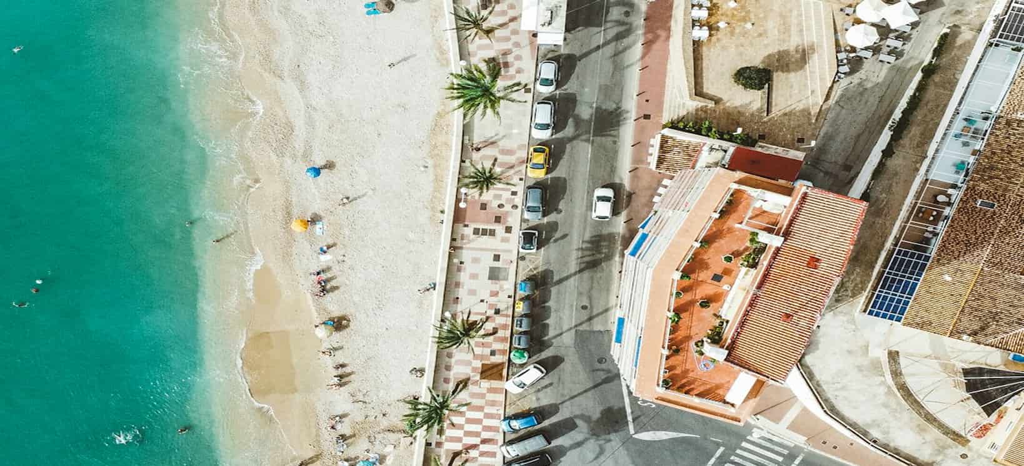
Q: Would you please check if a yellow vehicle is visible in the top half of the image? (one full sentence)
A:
Yes, in the top half of the image there is a yellow vehicle.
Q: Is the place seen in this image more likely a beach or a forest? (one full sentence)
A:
The area seen from above is a beach.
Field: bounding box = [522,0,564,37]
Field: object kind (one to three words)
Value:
truck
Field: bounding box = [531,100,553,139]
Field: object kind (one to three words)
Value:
car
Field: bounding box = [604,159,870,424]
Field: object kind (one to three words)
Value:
building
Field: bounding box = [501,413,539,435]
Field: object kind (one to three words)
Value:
car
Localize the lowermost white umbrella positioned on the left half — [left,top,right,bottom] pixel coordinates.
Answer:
[316,322,334,337]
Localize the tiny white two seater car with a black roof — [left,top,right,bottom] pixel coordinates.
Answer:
[518,229,538,253]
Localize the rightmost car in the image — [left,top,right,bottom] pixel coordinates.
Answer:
[592,186,615,220]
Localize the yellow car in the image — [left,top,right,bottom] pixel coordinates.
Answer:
[527,144,549,179]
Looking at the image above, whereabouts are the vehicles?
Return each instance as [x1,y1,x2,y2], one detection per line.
[527,144,549,179]
[503,432,549,460]
[531,100,553,139]
[592,186,615,220]
[522,0,564,37]
[507,361,547,395]
[508,450,550,466]
[501,413,539,435]
[518,229,538,253]
[523,184,544,221]
[536,58,559,94]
